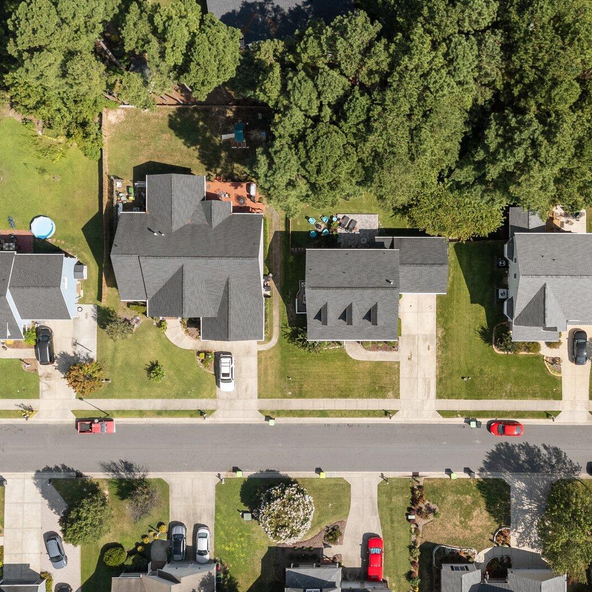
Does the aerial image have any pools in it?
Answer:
Yes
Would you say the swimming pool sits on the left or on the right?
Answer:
left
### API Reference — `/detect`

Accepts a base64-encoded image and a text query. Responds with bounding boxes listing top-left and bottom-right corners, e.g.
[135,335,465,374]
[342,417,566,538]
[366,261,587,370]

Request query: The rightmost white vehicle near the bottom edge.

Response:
[194,526,211,563]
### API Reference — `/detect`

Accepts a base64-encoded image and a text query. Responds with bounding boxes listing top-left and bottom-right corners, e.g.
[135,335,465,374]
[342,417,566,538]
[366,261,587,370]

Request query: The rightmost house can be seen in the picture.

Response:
[505,206,592,342]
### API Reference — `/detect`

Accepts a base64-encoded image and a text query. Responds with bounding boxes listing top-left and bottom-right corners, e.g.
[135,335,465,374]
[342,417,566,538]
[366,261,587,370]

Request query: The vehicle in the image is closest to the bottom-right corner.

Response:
[489,420,523,437]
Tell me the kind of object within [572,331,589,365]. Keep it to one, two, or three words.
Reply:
car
